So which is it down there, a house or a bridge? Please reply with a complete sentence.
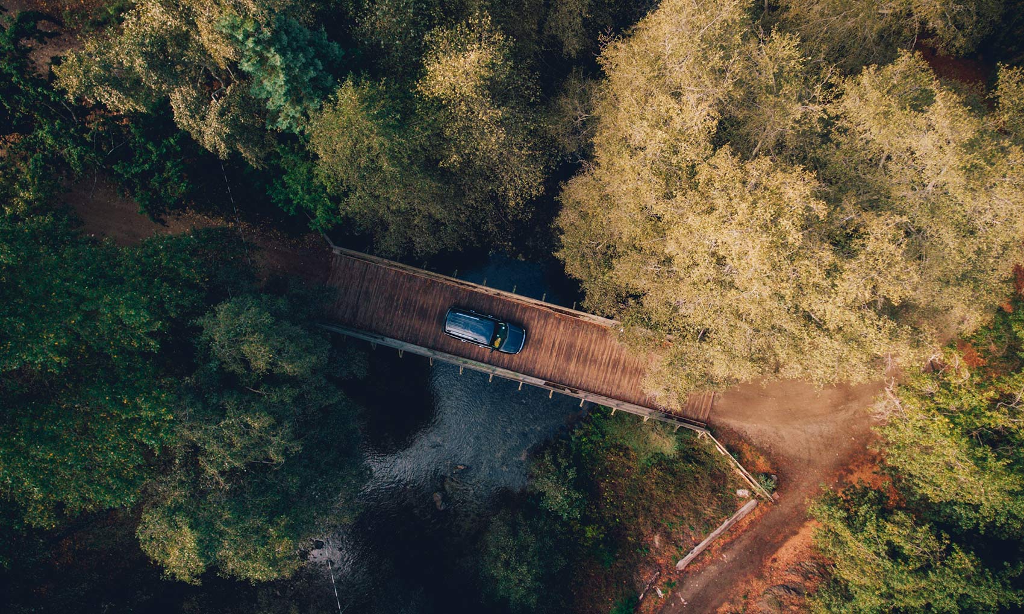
Of the two, only a bridge appears.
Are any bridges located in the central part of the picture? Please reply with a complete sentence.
Yes, a bridge can be seen in the central part of the picture.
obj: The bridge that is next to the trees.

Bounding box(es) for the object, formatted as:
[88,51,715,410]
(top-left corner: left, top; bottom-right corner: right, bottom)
[310,240,717,436]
